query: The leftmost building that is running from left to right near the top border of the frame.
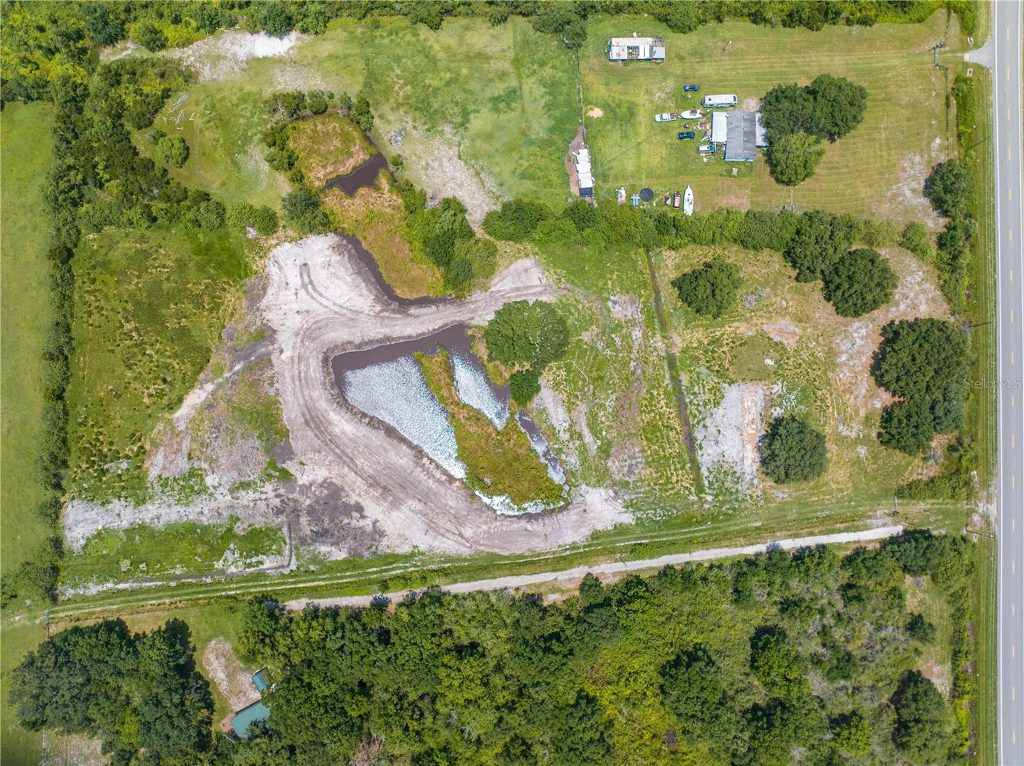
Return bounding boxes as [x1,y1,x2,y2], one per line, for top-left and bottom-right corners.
[609,37,665,61]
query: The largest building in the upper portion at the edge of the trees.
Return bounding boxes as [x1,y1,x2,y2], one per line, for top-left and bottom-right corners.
[711,110,769,161]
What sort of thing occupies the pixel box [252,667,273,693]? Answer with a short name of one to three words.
shed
